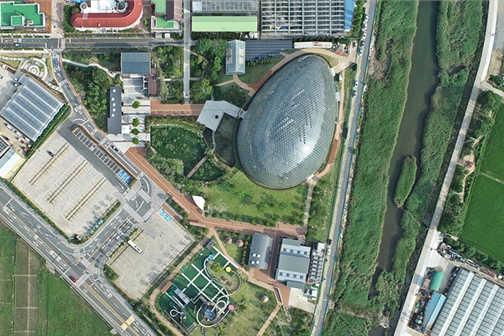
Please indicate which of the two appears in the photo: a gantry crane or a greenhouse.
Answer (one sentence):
This aerial view contains a greenhouse.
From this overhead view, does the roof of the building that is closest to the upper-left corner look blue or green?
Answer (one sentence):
From above, the roof of the building that is closest to the upper-left corner appears green.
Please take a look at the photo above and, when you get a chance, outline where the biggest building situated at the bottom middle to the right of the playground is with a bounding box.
[275,238,310,288]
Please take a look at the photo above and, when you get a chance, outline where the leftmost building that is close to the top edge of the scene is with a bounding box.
[0,2,48,33]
